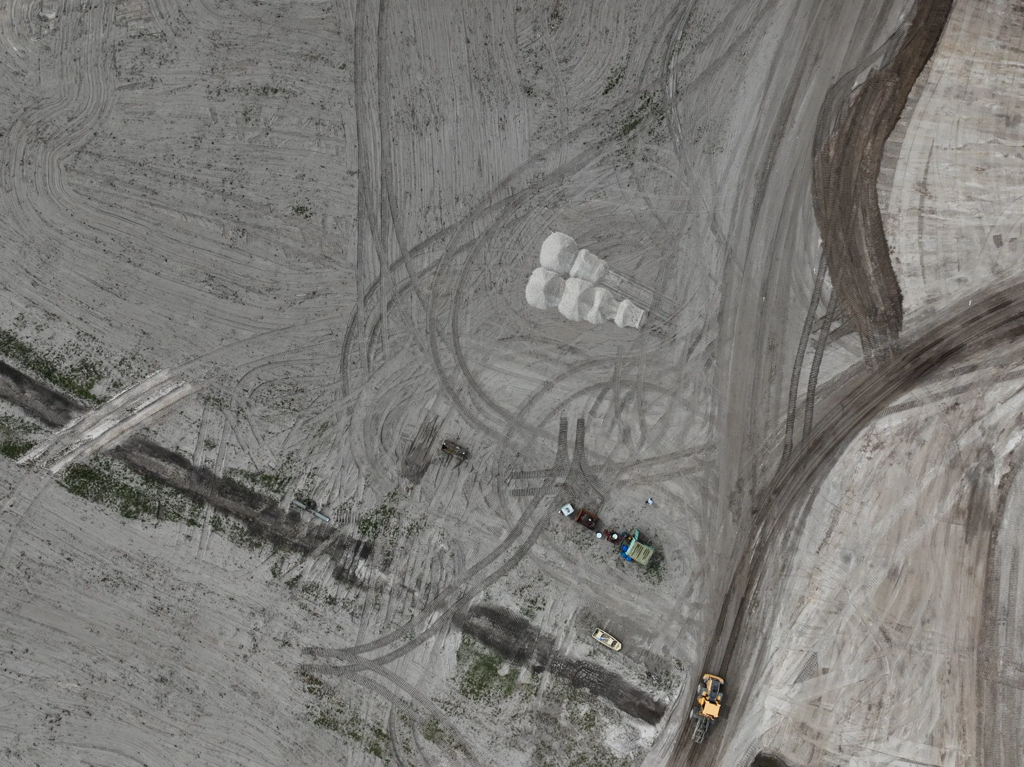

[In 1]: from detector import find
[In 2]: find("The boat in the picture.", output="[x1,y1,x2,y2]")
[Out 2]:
[592,628,621,651]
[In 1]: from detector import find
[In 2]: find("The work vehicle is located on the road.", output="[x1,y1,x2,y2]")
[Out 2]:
[689,672,725,743]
